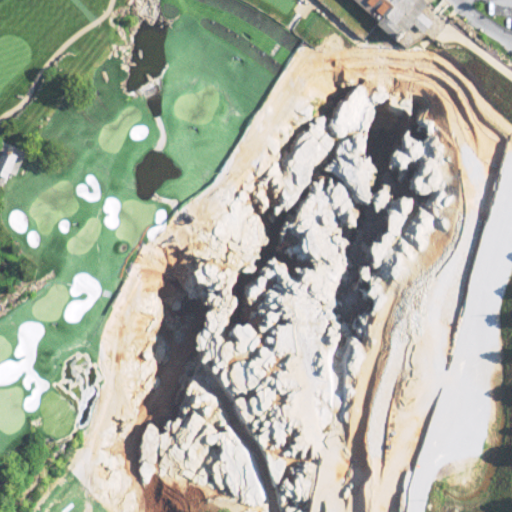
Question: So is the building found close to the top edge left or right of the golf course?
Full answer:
Relative to the golf course, the building found close to the top edge lies to the right.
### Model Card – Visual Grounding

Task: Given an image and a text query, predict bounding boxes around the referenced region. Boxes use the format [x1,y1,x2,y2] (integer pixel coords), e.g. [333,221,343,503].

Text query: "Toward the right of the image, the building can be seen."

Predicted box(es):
[356,0,438,50]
